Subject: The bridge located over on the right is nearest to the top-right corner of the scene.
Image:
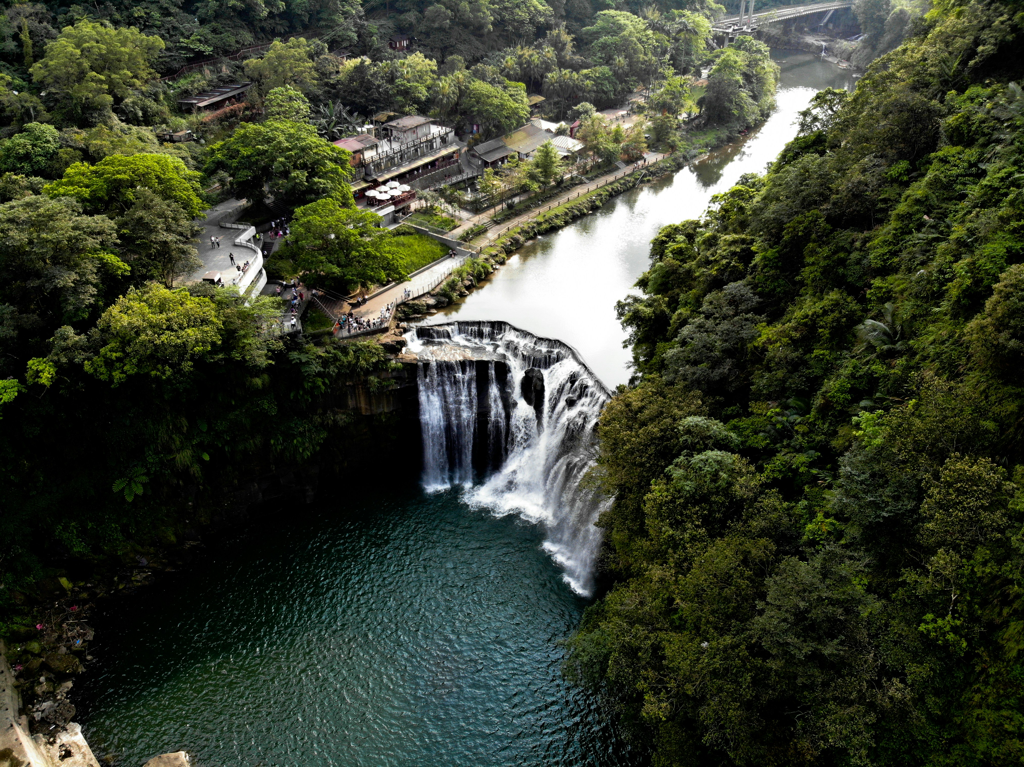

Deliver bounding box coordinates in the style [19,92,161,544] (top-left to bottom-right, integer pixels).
[712,0,837,38]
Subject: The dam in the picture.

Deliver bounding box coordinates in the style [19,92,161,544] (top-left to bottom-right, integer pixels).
[412,322,614,417]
